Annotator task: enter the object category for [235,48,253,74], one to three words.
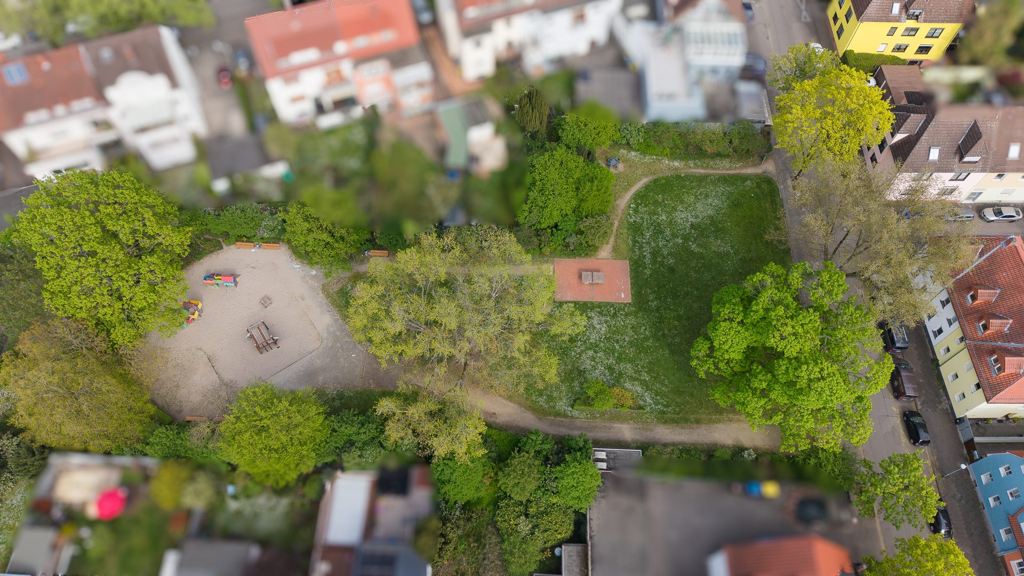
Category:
car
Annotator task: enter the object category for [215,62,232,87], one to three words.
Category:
car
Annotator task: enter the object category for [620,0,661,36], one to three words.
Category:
building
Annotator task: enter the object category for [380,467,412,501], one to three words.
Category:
shed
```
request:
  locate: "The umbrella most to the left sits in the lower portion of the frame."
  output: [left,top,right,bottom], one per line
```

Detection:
[83,492,113,523]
